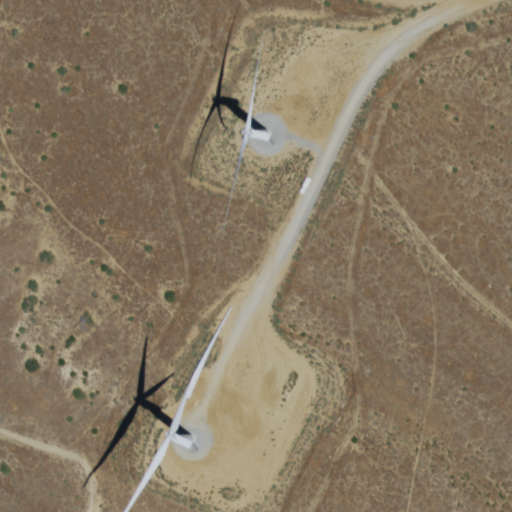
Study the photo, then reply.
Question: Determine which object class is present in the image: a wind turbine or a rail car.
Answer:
wind turbine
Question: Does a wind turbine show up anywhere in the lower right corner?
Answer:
No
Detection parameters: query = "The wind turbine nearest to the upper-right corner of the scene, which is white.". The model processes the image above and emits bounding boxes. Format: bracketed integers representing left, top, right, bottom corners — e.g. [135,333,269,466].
[236,24,277,219]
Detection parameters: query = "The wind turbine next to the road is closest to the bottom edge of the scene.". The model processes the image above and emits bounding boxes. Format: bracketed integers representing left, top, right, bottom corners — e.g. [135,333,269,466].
[136,353,214,512]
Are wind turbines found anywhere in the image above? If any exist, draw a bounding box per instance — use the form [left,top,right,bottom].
[236,24,277,219]
[136,353,214,512]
